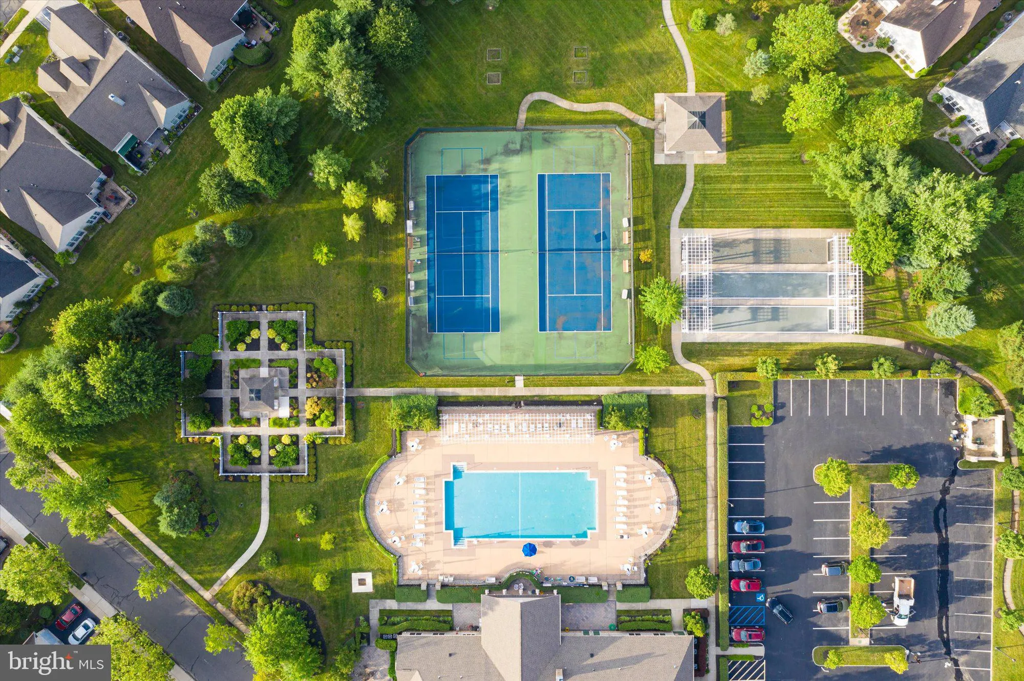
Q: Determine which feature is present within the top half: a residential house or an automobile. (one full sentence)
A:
The feature located within the top half is a residential house.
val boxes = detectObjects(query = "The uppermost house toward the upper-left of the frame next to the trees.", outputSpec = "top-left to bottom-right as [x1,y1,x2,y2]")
[116,0,251,83]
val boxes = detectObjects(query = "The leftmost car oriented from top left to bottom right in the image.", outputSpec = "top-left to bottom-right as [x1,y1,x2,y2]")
[765,595,794,627]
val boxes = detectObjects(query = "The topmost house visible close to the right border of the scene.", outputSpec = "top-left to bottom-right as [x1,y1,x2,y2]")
[875,0,1001,72]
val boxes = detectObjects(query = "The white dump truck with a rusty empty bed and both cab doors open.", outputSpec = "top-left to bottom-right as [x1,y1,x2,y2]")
[887,571,919,622]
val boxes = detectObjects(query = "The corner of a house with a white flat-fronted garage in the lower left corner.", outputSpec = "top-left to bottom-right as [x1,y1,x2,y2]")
[10,622,81,681]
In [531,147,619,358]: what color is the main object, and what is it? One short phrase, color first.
blue tennis court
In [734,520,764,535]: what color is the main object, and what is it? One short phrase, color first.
blue car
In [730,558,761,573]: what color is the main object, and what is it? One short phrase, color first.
blue car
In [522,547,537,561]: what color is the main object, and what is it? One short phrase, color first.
blue umbrella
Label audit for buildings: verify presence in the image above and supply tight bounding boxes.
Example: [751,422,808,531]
[10,622,81,681]
[241,377,279,412]
[116,0,251,83]
[0,244,49,325]
[664,95,722,154]
[38,2,194,171]
[0,92,108,252]
[875,0,1001,72]
[394,590,694,681]
[937,10,1024,138]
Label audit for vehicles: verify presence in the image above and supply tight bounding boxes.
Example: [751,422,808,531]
[731,627,765,644]
[887,571,919,622]
[68,617,97,646]
[765,595,794,627]
[819,562,848,577]
[731,539,763,555]
[730,558,761,573]
[734,520,764,535]
[730,577,762,593]
[816,599,847,614]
